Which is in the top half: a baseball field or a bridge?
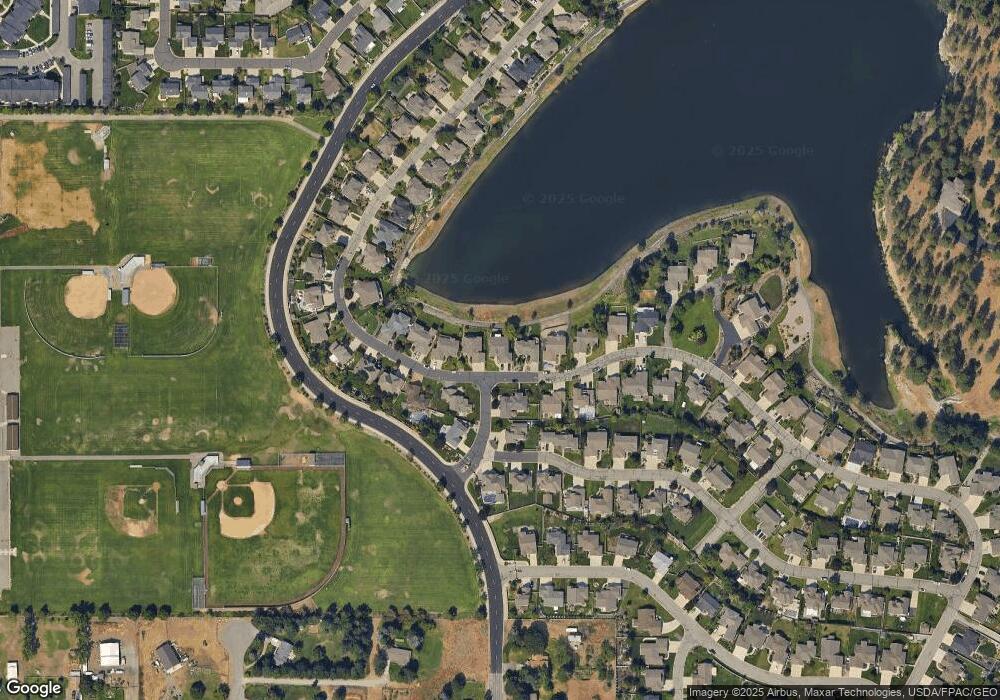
baseball field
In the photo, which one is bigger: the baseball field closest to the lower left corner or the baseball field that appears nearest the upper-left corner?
the baseball field closest to the lower left corner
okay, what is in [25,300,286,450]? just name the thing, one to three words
sports field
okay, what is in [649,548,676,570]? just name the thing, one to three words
house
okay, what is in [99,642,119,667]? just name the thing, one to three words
barn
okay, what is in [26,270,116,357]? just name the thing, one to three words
baseball field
